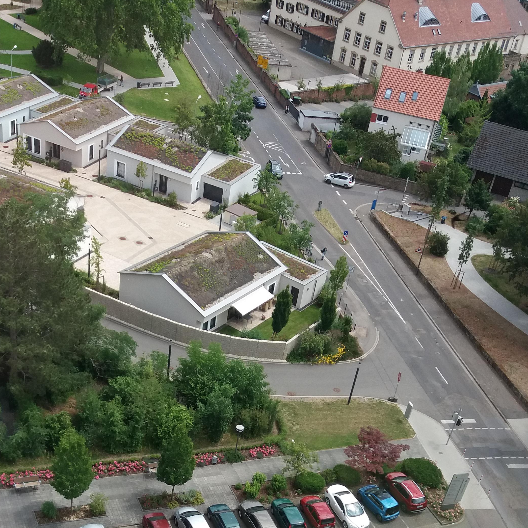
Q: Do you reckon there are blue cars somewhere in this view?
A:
Yes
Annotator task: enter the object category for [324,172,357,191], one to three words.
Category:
car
